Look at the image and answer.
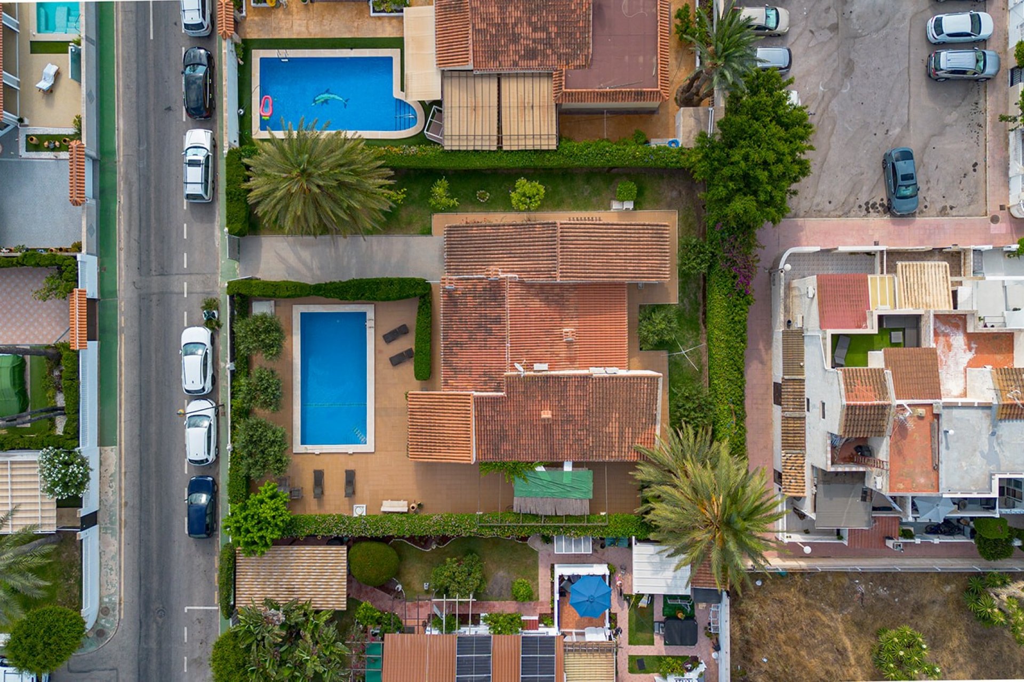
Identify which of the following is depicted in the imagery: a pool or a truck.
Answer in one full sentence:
I can see a pool in this picture.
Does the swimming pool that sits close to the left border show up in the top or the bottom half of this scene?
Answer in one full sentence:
You can find the swimming pool that sits close to the left border in the top half.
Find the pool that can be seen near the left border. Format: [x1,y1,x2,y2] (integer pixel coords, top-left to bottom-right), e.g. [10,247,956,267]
[29,0,79,40]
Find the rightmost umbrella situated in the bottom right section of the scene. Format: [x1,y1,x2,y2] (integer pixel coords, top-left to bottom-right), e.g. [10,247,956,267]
[908,495,957,530]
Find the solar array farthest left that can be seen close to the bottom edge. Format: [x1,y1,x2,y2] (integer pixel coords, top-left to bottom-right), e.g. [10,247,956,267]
[457,636,491,682]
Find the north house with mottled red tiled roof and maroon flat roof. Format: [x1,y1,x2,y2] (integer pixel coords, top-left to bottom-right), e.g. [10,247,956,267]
[435,0,672,117]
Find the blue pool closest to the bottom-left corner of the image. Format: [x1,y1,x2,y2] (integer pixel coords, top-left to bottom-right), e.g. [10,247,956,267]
[293,304,375,453]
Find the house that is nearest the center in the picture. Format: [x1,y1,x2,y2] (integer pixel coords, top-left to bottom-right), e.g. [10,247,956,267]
[407,220,671,464]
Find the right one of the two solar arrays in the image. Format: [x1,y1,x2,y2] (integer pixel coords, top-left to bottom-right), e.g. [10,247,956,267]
[521,636,555,682]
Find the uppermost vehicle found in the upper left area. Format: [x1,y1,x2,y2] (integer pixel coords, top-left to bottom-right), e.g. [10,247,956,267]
[177,0,218,40]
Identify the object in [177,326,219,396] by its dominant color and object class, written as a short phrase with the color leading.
white car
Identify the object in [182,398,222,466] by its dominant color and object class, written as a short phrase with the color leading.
white car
